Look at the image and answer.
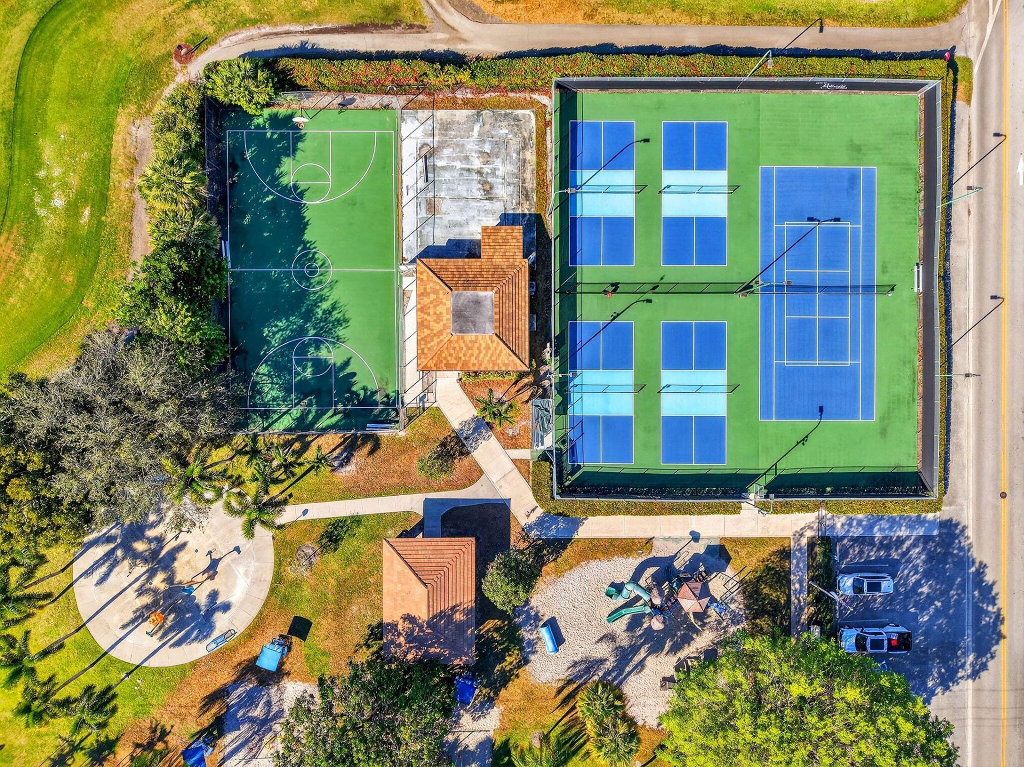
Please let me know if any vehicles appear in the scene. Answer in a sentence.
Yes, you can see a vehicle in this photo.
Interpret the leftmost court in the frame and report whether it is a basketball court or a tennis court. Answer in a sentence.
The leftmost court appears to be a basketball court.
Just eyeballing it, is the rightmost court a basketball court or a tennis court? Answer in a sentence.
The rightmost court appears to be a tennis court.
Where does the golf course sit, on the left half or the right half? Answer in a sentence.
The golf course appears in the left half of the scene.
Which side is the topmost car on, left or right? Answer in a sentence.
It is on the right.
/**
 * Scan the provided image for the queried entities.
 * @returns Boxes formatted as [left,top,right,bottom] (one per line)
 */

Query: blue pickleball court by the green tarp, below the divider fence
[568,321,634,464]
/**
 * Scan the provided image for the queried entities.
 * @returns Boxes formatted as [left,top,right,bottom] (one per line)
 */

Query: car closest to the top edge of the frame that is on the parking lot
[836,572,891,598]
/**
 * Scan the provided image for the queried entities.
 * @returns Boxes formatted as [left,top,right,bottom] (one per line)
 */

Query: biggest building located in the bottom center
[382,533,476,666]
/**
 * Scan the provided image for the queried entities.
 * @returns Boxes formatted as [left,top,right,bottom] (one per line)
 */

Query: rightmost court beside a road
[759,94,919,485]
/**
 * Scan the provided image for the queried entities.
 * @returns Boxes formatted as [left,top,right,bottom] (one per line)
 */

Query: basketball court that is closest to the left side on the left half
[220,108,400,431]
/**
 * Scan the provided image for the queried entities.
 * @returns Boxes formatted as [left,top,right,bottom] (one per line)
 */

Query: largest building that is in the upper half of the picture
[416,226,529,372]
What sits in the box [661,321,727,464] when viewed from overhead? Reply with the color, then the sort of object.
blue sports court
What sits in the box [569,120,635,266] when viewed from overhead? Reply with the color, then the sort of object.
blue sports court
